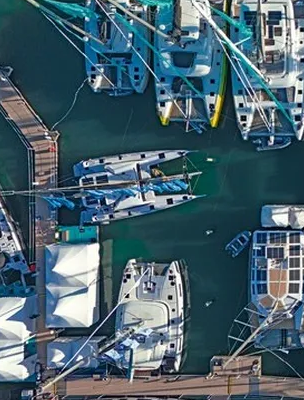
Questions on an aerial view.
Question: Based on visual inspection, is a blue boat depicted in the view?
Yes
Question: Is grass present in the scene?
No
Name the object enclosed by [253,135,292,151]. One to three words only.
boat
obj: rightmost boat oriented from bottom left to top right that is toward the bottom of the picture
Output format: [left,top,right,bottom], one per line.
[220,229,251,261]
